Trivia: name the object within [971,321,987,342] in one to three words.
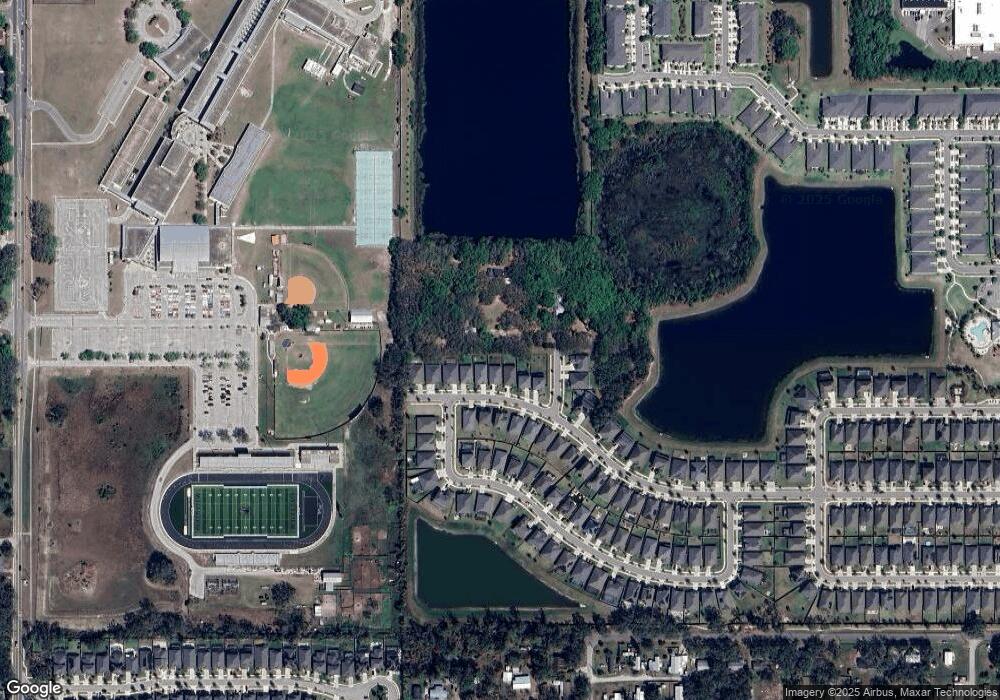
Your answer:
swimming pool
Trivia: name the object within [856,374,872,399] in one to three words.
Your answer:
house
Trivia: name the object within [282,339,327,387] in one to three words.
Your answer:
baseball field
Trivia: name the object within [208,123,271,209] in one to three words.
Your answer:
building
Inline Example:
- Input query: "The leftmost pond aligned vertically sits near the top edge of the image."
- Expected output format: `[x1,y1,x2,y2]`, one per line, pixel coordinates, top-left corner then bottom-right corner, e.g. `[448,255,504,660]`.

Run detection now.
[798,0,833,78]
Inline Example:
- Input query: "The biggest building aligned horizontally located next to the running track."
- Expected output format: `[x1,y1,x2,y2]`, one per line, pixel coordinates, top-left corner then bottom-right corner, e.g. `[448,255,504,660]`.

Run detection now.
[300,447,338,466]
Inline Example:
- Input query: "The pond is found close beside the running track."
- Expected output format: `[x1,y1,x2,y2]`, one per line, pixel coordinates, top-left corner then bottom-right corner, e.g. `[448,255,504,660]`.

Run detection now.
[416,516,578,607]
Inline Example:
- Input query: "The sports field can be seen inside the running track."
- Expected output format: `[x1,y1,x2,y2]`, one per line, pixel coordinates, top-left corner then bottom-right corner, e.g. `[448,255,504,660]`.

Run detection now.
[192,485,299,538]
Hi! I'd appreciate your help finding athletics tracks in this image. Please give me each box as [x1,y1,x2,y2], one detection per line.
[160,472,333,549]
